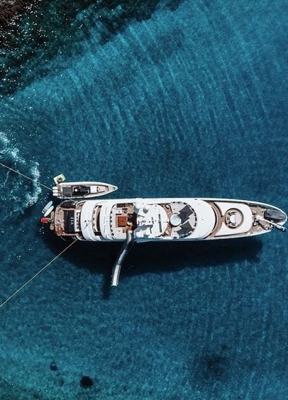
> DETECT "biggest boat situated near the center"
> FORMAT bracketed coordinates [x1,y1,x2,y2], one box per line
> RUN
[47,197,287,242]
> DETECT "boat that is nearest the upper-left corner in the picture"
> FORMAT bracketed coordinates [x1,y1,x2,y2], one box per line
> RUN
[52,182,119,201]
